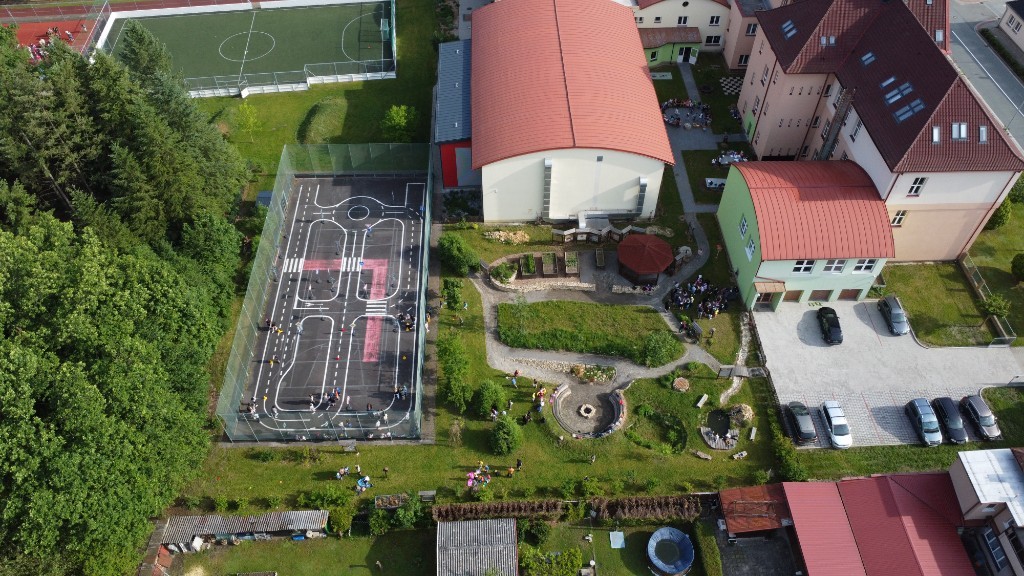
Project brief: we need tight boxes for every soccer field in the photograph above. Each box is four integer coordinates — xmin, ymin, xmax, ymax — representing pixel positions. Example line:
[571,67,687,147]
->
[83,0,397,97]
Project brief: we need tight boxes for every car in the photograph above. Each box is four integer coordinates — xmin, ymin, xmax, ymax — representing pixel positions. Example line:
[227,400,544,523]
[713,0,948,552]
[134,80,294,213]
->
[817,311,847,346]
[934,401,970,446]
[882,301,911,336]
[788,406,818,447]
[907,402,942,447]
[965,400,1000,442]
[820,405,851,449]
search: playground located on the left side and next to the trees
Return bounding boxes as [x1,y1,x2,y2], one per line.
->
[233,174,430,441]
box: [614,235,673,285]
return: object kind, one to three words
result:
gazebo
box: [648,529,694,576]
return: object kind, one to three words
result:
swimming pool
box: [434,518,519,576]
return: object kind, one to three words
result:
barn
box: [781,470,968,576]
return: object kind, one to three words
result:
house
